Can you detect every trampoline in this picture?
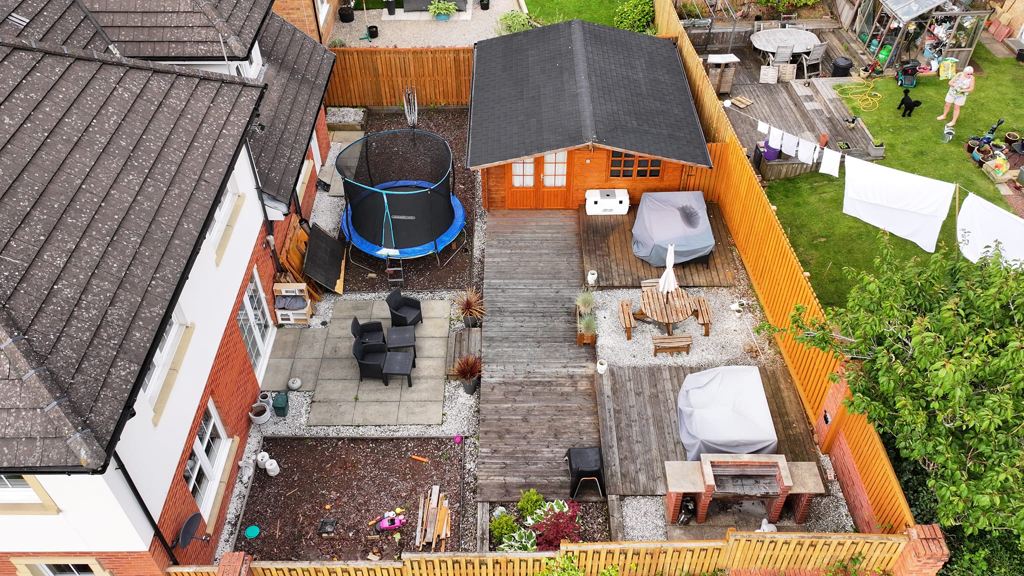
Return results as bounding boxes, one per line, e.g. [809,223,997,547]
[335,132,467,276]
